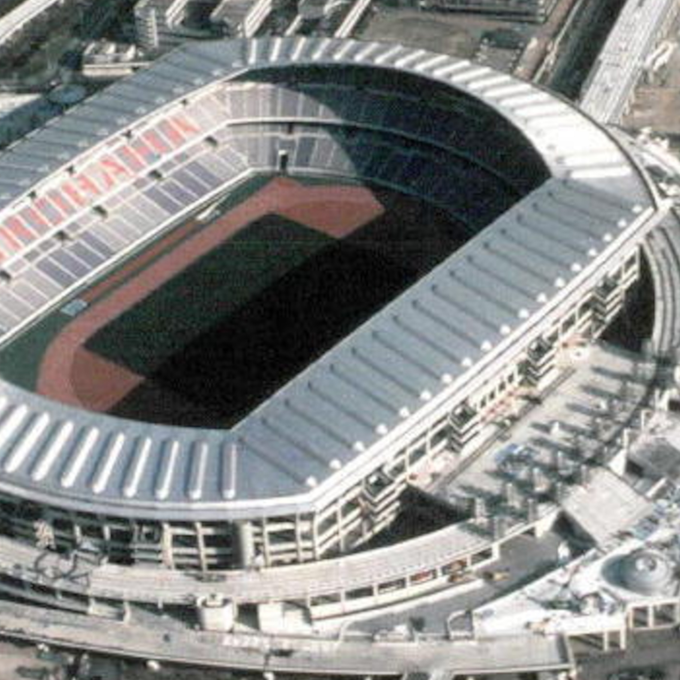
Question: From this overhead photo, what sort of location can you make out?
sports ground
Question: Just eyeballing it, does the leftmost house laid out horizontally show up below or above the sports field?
above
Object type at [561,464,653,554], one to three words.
building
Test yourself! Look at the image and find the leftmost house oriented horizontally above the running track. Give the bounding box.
[82,41,156,74]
